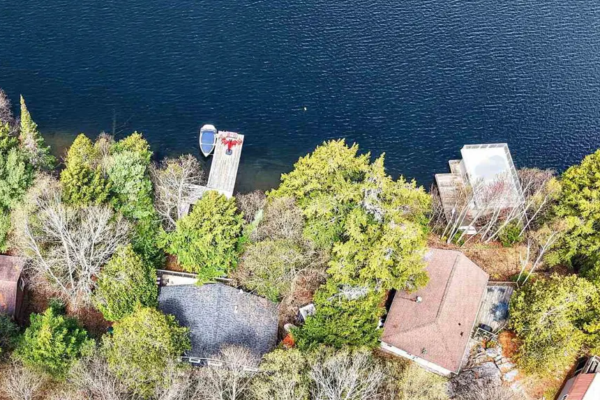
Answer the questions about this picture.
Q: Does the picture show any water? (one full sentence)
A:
Yes, water shows up in the scene.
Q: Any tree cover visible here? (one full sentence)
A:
Yes, some tree cover is visible.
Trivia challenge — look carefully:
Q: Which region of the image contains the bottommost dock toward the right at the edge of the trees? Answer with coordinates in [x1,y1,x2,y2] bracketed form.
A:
[433,174,475,223]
